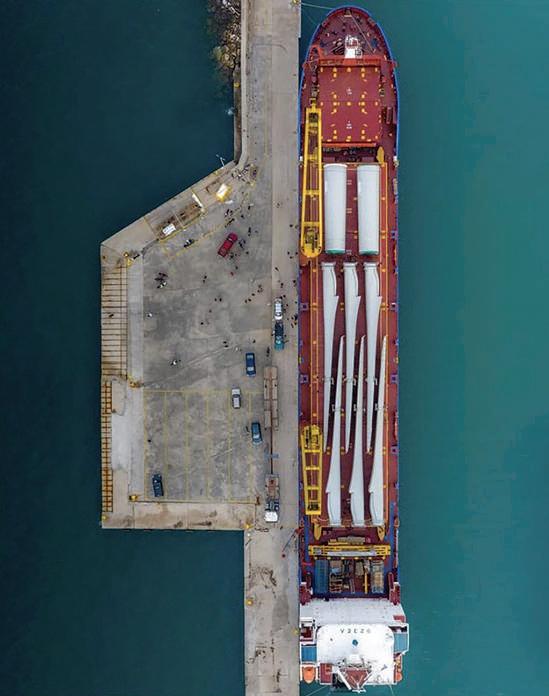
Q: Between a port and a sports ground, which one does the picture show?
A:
port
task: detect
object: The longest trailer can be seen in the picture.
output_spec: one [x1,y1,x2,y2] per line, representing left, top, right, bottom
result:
[264,366,280,526]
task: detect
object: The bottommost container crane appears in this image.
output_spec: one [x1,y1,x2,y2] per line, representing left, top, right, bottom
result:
[308,538,390,560]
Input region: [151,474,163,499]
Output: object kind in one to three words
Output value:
vehicle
